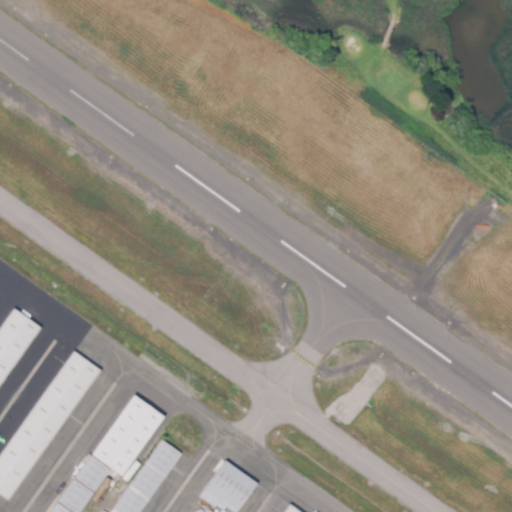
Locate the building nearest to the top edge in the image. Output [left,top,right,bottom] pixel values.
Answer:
[0,308,42,386]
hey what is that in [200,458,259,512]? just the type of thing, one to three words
hangar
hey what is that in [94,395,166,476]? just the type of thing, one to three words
hangar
